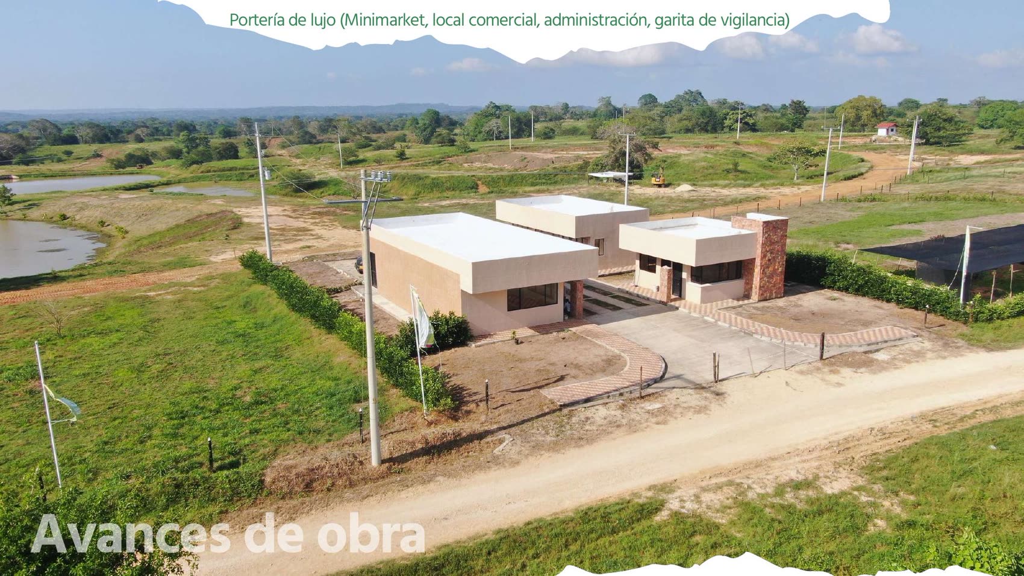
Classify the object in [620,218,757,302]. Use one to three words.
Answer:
building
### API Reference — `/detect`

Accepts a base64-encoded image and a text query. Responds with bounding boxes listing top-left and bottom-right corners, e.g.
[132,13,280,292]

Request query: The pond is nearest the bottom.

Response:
[0,220,108,278]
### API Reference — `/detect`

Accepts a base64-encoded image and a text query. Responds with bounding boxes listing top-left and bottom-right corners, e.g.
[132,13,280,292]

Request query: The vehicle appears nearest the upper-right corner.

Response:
[651,164,666,189]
